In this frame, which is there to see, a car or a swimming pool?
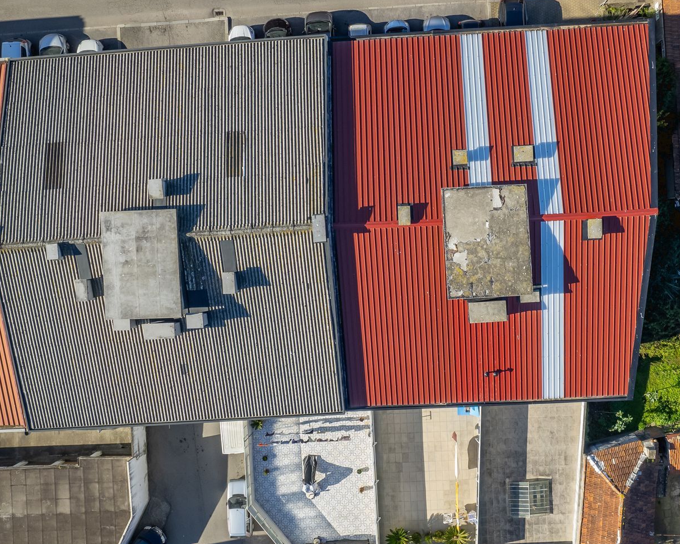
car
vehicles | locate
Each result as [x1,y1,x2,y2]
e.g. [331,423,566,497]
[298,6,334,33]
[257,14,291,36]
[0,37,29,60]
[384,13,409,32]
[349,19,371,34]
[498,0,528,25]
[75,38,103,51]
[222,482,250,544]
[30,33,68,55]
[424,14,450,29]
[226,22,254,39]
